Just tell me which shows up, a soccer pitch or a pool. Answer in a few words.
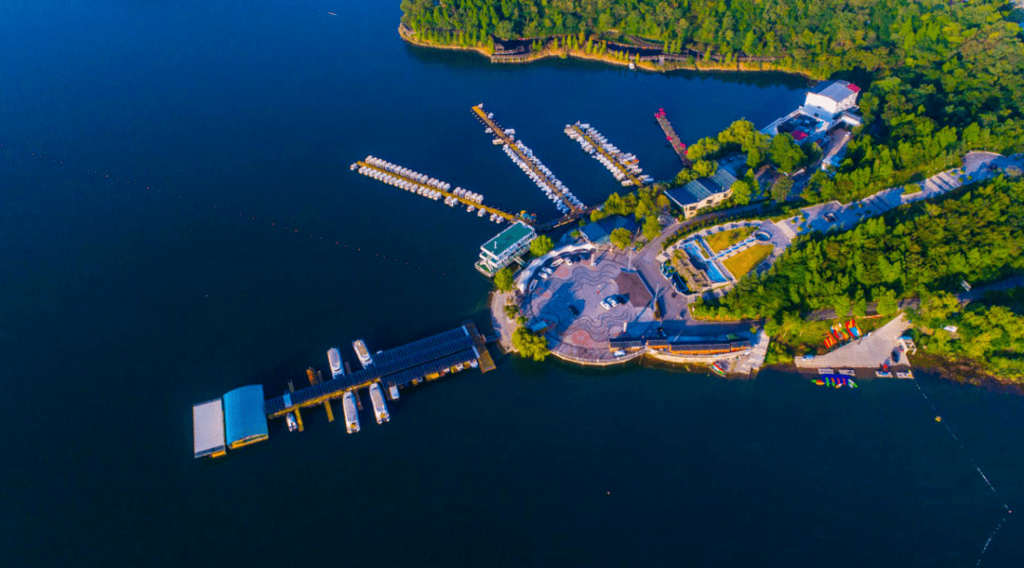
pool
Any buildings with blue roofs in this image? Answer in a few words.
Yes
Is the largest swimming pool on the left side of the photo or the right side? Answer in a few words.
right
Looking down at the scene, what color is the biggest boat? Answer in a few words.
blue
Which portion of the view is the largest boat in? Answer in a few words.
center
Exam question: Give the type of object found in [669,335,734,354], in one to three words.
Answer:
shed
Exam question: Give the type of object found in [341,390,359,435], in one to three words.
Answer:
boat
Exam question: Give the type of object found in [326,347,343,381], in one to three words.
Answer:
boat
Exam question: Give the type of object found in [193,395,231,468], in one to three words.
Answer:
building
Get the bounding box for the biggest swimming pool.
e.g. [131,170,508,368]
[683,239,730,285]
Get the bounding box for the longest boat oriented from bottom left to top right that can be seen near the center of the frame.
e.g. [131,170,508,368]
[469,218,536,274]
